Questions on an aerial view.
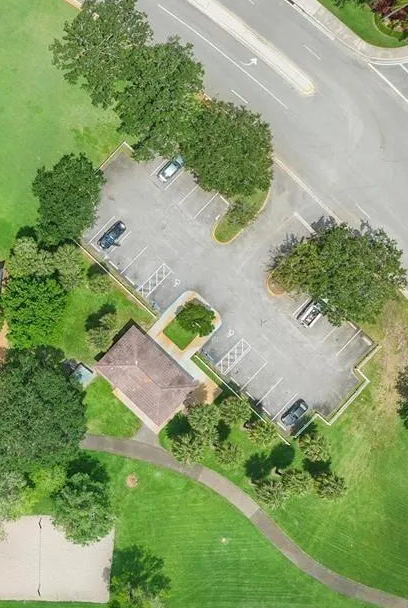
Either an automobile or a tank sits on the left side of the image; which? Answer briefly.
automobile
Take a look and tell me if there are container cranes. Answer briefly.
No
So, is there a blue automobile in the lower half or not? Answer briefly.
No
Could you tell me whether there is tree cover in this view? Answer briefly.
Yes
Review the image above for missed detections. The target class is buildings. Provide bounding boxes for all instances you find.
[96,325,199,430]
[69,364,92,384]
